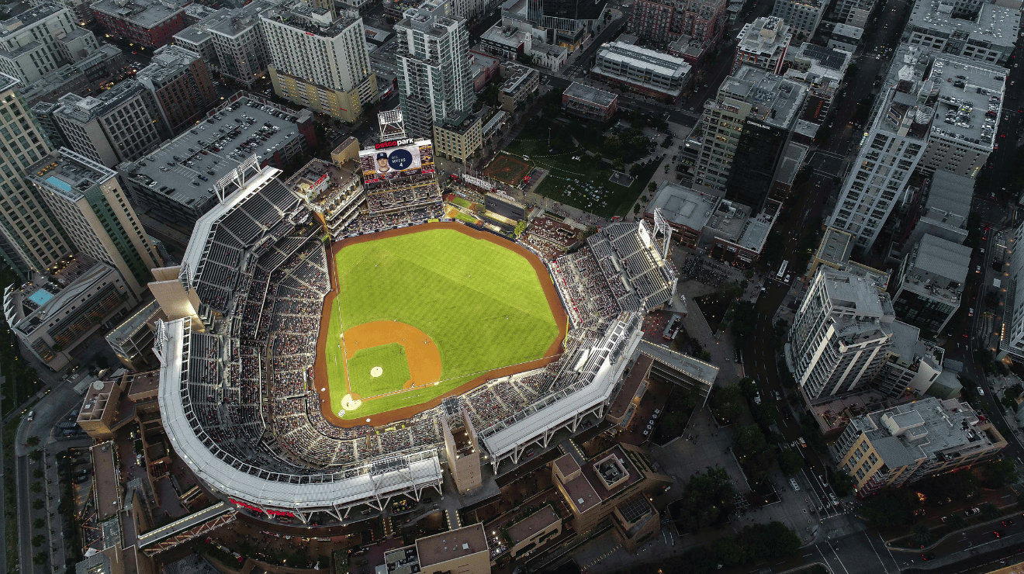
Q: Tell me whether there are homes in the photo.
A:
Yes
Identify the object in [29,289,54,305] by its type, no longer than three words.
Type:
swimming pool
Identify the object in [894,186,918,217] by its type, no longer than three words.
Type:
house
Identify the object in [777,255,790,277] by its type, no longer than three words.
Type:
vehicle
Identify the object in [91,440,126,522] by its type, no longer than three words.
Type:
building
